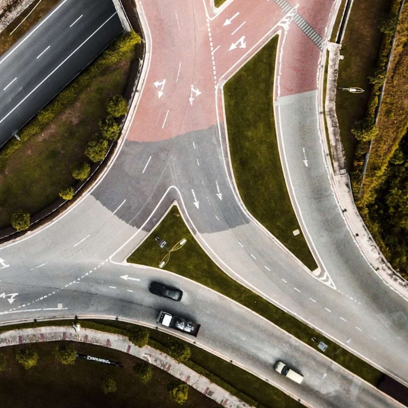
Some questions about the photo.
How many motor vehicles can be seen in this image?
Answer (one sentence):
My tally gives 3 motor vehicles in this view.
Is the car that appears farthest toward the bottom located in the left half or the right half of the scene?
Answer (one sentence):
The car that appears farthest toward the bottom is on the right side of the image.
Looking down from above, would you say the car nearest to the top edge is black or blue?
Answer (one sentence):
From above, the car nearest to the top edge appears black.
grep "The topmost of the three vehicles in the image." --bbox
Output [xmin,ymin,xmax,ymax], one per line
[150,282,183,302]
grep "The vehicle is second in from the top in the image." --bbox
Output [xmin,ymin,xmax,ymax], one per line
[156,310,201,339]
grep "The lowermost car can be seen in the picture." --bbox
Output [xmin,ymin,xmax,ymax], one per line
[274,362,306,386]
